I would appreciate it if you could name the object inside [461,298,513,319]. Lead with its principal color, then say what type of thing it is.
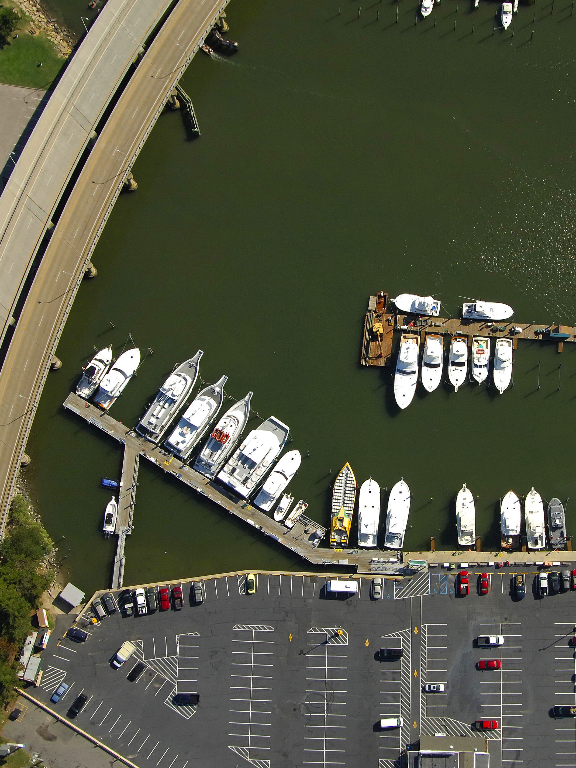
white boat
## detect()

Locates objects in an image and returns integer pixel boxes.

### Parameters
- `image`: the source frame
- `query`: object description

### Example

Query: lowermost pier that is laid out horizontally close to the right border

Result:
[397,313,576,342]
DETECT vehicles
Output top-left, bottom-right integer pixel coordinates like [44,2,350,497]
[146,588,158,611]
[112,642,134,667]
[380,649,403,659]
[93,599,108,619]
[50,681,69,703]
[561,571,572,590]
[372,579,381,599]
[478,661,501,670]
[460,571,469,595]
[160,588,170,610]
[426,684,444,693]
[550,571,560,592]
[102,592,116,611]
[123,589,134,615]
[515,575,524,599]
[480,573,488,593]
[68,695,87,717]
[554,706,576,716]
[127,661,145,681]
[172,695,199,704]
[380,717,404,727]
[323,580,359,591]
[476,721,498,730]
[65,629,89,642]
[172,587,183,609]
[192,582,204,604]
[539,573,549,596]
[135,588,146,614]
[478,635,504,645]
